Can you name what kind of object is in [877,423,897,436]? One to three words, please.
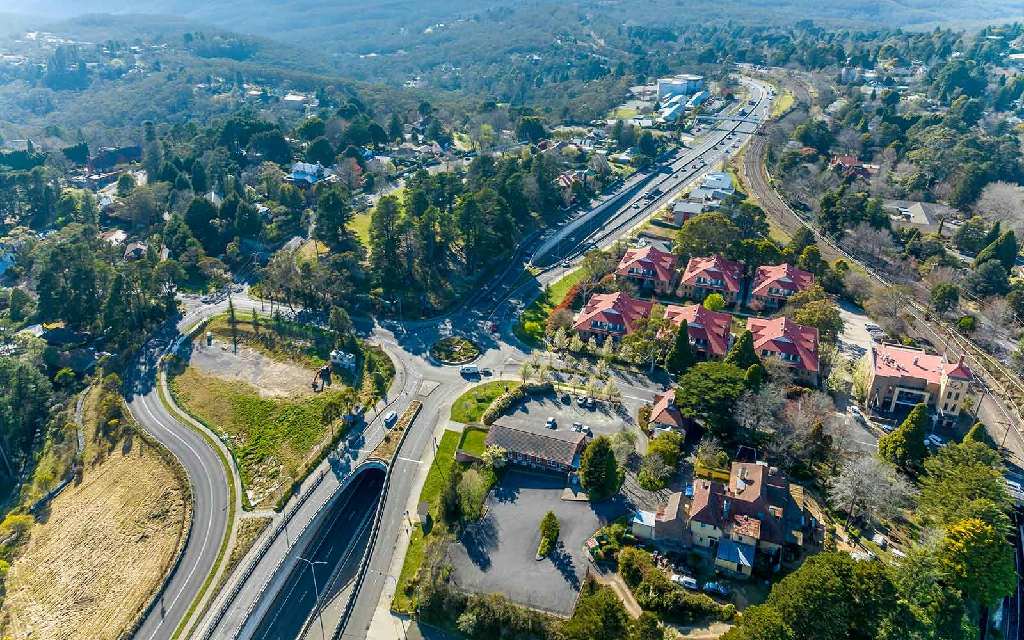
vehicle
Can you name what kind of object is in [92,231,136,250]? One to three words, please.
house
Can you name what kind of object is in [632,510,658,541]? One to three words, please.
shed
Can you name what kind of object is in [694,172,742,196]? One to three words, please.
building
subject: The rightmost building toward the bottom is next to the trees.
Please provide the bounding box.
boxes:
[855,345,972,427]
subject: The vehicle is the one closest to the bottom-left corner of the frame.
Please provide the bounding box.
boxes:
[303,370,329,387]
